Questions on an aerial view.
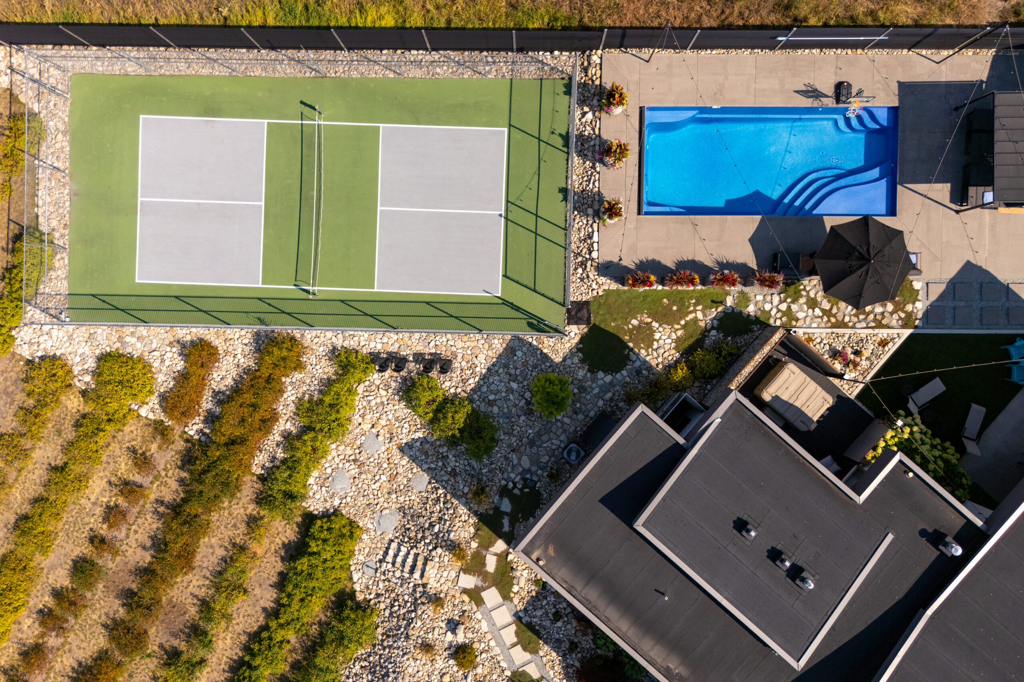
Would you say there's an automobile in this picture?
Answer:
No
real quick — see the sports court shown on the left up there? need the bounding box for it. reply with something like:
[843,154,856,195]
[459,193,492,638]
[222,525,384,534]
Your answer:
[68,73,572,335]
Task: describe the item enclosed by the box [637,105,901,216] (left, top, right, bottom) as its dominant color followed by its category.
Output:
blue swimming pool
